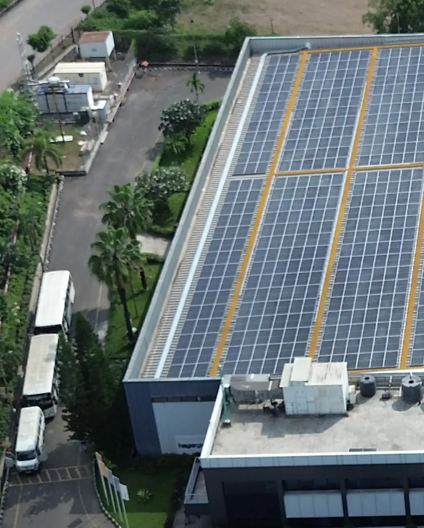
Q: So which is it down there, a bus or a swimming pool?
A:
bus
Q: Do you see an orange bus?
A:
No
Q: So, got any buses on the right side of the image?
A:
No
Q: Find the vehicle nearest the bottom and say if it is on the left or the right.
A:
left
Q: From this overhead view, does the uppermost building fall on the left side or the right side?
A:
left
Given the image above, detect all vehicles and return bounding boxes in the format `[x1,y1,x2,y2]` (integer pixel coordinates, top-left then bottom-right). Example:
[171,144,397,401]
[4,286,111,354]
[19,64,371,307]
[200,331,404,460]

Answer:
[37,270,74,338]
[23,334,62,420]
[14,406,51,481]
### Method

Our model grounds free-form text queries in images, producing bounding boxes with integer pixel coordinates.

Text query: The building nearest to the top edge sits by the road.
[74,25,113,67]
